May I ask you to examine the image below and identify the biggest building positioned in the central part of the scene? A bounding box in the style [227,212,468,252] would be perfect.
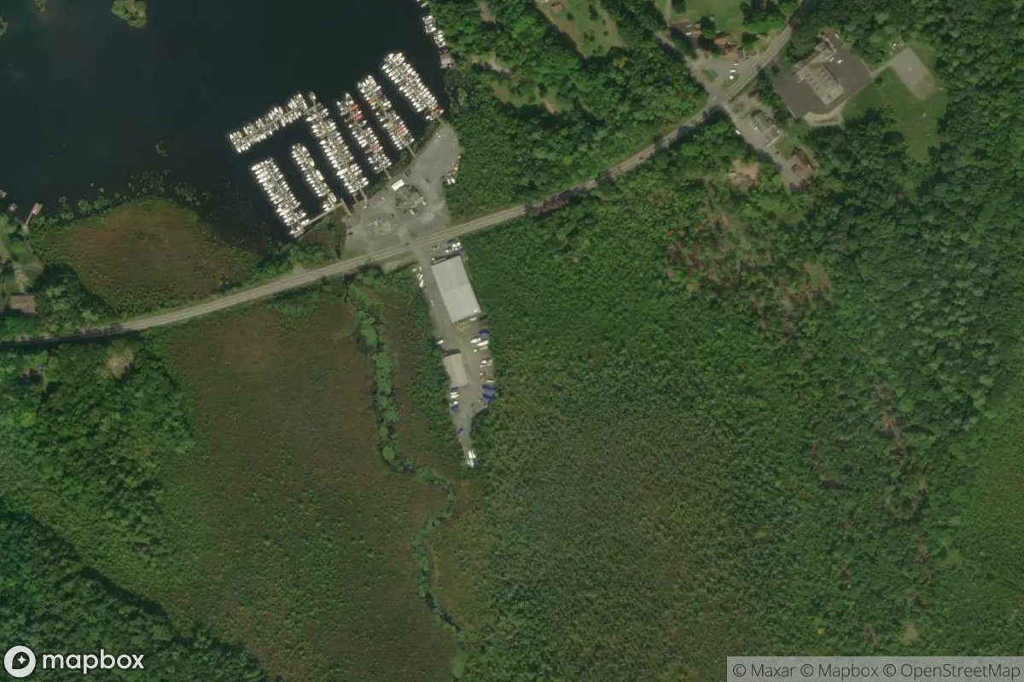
[431,255,481,322]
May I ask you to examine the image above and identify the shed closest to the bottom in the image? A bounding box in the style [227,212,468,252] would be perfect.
[444,352,469,387]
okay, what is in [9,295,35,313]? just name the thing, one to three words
house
